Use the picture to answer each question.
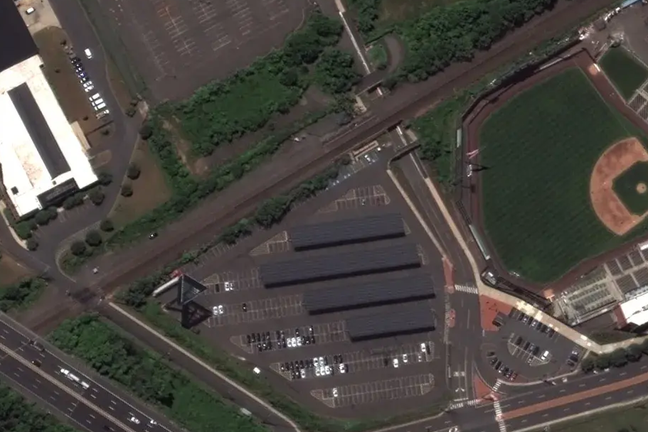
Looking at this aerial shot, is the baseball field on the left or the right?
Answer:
right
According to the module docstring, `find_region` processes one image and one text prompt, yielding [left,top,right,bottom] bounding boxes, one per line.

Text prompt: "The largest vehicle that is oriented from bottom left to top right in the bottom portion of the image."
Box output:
[153,277,179,294]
